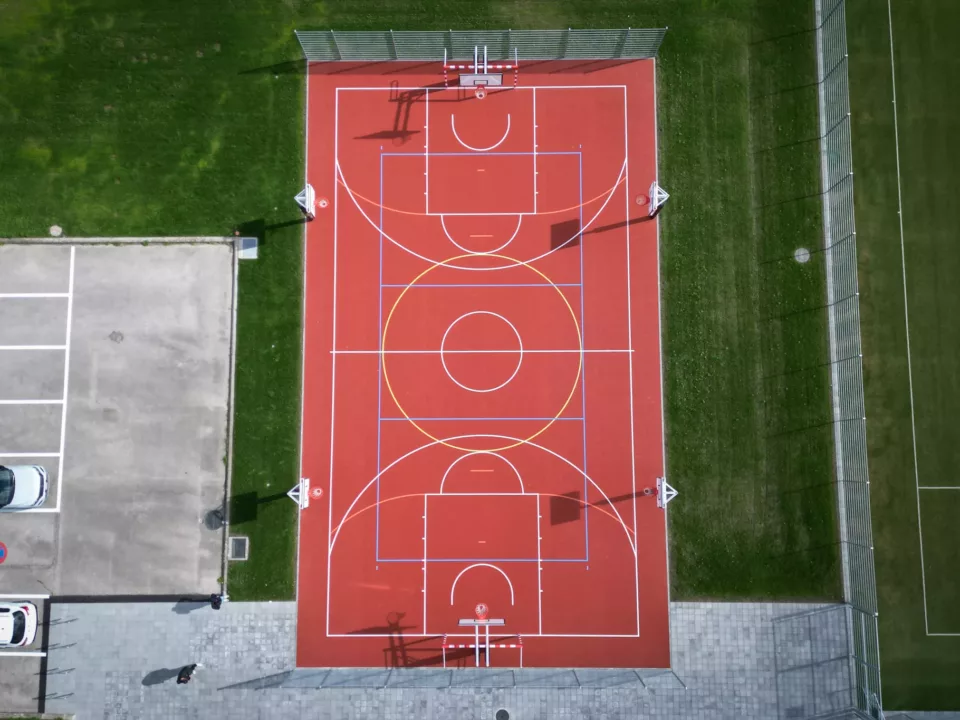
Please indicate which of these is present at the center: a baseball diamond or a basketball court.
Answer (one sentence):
The feature located at the center is a basketball court.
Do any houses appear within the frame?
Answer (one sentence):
No, the photo shows no house.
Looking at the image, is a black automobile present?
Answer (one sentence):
No, I find no black automobile anywhere in the image.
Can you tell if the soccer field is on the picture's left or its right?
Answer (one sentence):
It is on the right.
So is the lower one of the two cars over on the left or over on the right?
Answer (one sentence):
The lower one of the two cars is on the left side of the image.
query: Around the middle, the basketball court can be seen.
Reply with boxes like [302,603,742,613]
[293,57,672,669]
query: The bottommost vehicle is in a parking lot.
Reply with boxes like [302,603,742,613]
[0,599,42,648]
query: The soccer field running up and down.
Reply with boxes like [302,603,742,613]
[820,0,960,712]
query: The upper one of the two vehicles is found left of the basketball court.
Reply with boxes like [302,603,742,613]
[0,463,51,512]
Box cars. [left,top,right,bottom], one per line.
[0,463,51,512]
[0,599,42,648]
